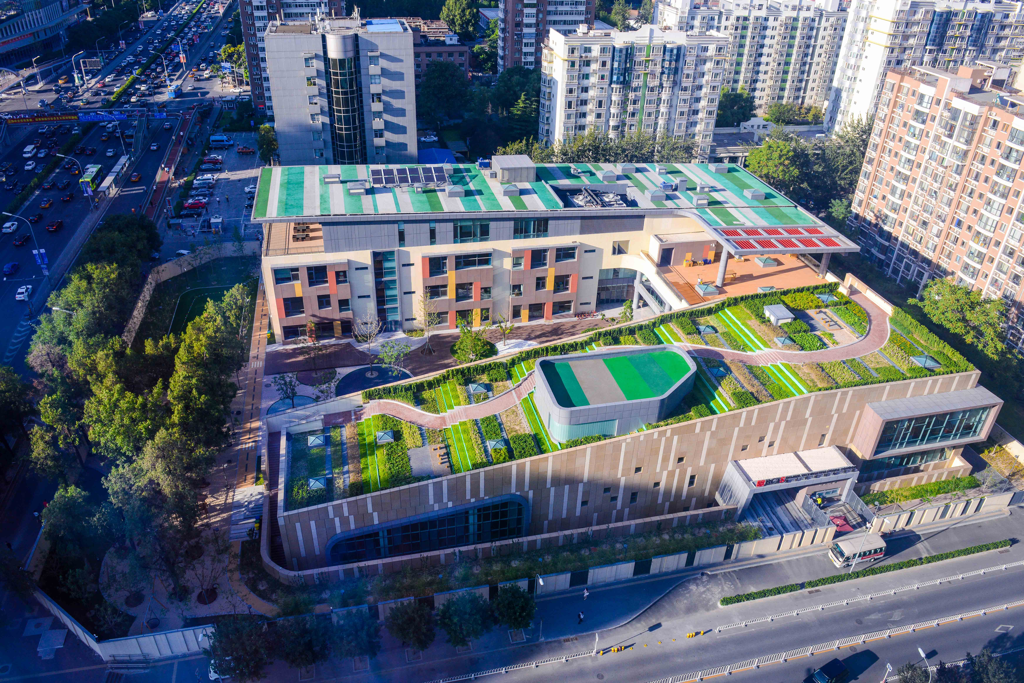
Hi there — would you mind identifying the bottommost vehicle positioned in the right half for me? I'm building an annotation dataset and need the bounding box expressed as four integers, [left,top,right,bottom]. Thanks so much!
[801,650,855,683]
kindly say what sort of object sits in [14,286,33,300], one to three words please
car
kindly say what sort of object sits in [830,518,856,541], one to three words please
umbrella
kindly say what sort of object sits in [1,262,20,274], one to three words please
vehicle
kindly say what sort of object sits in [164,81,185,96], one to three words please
vehicle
